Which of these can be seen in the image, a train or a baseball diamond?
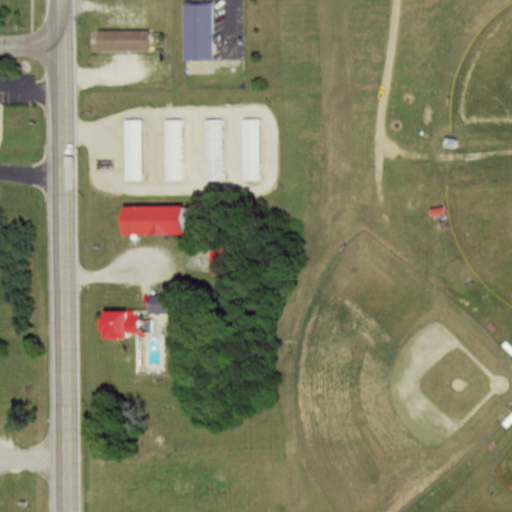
baseball diamond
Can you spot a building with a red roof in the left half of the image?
Yes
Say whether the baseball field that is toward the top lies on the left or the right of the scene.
right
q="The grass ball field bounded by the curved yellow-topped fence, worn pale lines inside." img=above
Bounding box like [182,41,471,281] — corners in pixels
[447,2,512,305]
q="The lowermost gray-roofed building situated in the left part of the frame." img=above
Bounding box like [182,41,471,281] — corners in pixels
[148,294,166,314]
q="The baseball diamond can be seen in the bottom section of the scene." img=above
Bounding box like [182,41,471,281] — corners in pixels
[296,230,512,512]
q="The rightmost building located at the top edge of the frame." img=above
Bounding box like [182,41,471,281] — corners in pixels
[183,2,216,61]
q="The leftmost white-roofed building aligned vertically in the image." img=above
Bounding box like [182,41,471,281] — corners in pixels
[124,121,144,182]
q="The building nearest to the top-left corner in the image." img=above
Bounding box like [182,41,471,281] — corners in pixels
[90,30,154,53]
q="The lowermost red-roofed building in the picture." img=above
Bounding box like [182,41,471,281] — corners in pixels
[98,310,146,340]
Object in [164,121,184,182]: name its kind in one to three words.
building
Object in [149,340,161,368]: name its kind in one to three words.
swimming pool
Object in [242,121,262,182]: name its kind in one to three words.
building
